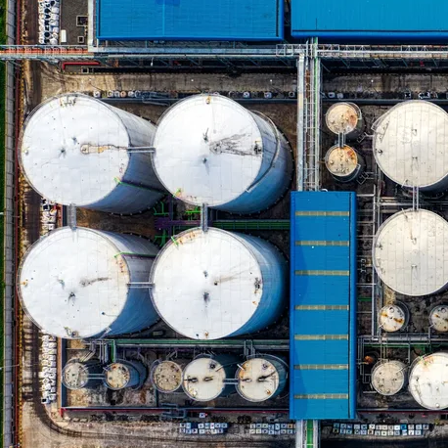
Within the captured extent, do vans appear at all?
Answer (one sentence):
No, no van is visible in the scene.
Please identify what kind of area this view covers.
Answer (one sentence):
The area seen from above is an industrial area.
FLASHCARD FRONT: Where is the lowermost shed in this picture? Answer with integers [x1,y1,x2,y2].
[292,191,359,419]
